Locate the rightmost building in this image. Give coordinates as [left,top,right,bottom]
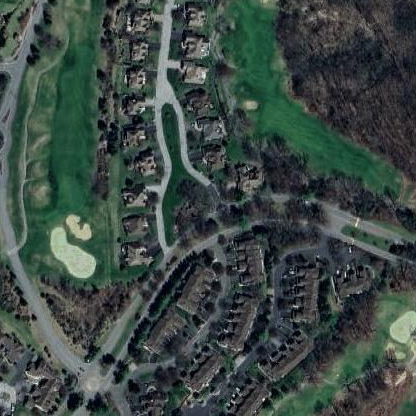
[238,163,266,190]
